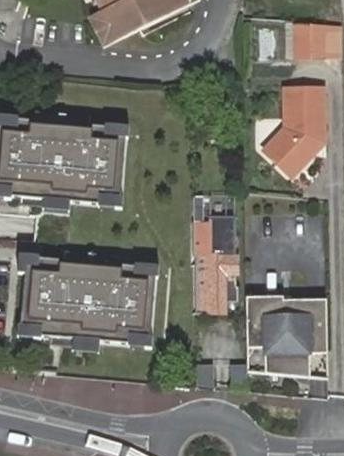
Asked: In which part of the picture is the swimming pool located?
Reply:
top right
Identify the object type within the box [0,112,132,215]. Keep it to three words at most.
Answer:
building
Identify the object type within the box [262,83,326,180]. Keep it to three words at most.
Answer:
house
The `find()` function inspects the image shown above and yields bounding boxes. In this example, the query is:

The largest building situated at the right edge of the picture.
[248,296,328,398]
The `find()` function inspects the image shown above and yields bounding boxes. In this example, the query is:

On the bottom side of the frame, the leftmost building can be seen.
[18,251,161,352]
